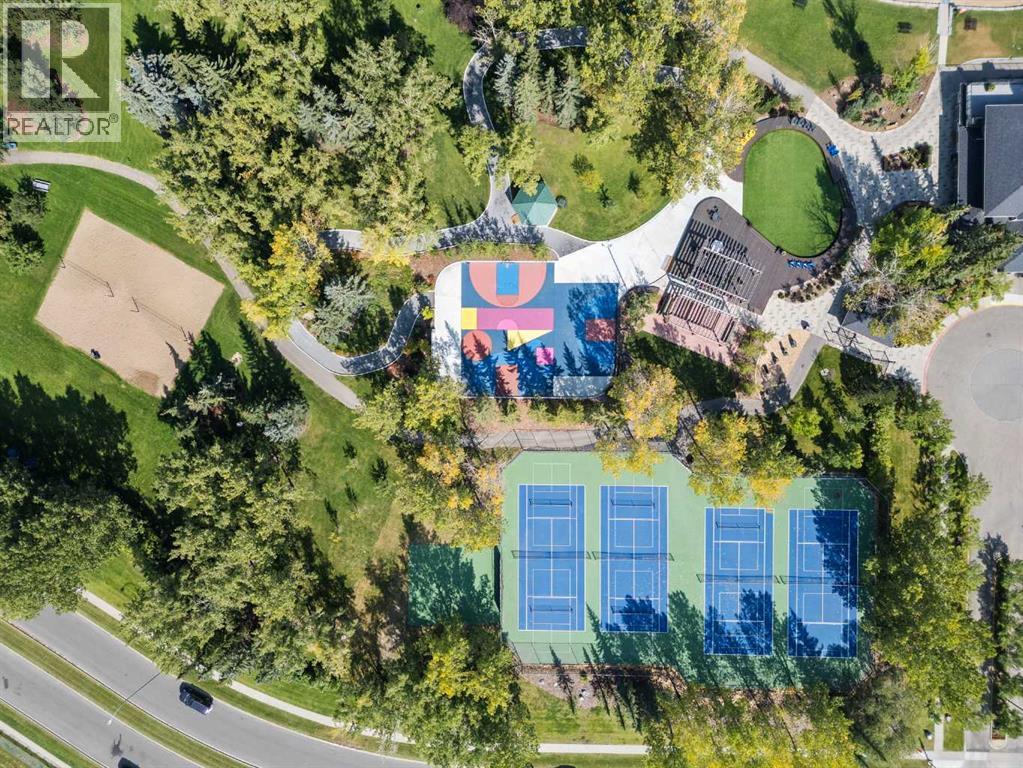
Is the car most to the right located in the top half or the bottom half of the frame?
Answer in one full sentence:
The car most to the right sits in the bottom half of the picture.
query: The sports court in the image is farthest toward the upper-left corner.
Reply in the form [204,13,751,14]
[35,208,225,398]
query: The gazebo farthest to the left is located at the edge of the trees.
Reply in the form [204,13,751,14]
[512,181,560,224]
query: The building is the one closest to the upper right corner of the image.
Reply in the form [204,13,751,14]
[949,76,1023,224]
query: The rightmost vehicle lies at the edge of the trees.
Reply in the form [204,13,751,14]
[180,690,213,715]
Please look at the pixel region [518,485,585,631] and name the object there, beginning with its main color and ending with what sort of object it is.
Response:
blue tennis court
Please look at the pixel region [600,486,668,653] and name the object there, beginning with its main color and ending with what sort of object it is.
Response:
blue tennis court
